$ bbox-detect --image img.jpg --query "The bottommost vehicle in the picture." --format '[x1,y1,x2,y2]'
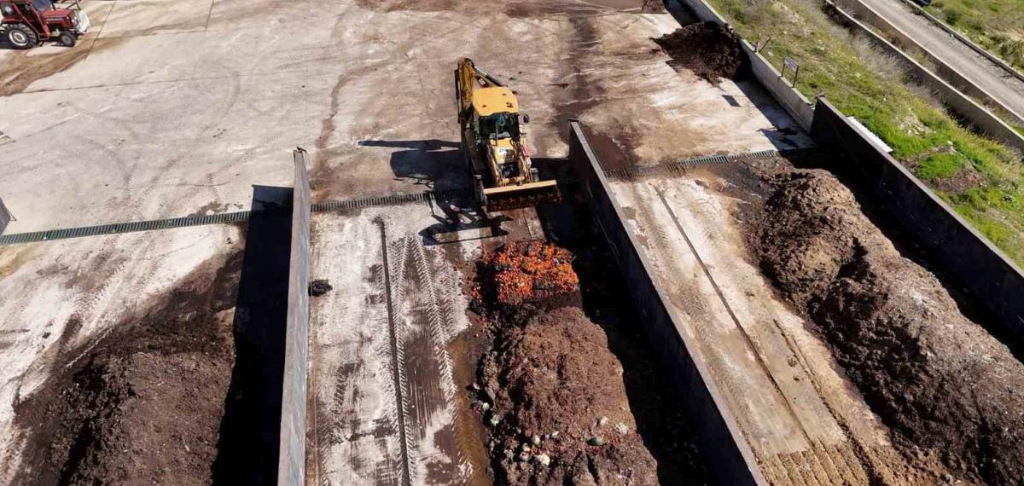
[451,56,562,211]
